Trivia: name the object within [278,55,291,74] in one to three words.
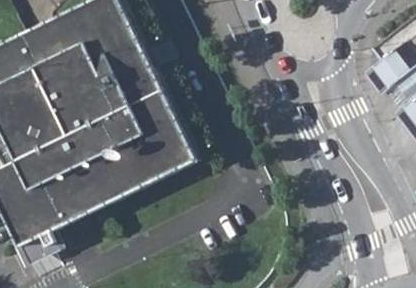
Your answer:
vehicle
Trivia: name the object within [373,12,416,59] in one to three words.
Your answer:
building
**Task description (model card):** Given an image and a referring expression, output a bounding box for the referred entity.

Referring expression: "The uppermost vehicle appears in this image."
[254,0,271,24]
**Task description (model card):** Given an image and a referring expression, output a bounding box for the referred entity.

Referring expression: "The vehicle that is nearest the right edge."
[354,232,366,256]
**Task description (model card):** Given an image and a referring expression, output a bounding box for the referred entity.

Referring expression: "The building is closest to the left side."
[0,0,196,277]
